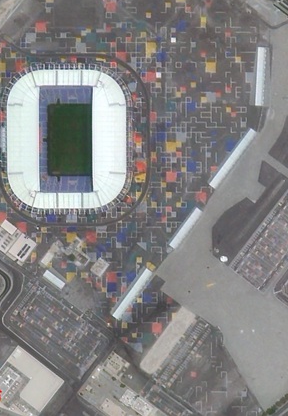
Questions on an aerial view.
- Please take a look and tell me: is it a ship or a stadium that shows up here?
stadium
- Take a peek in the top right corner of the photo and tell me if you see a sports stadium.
No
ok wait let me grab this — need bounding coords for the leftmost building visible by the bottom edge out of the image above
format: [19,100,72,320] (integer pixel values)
[0,368,20,401]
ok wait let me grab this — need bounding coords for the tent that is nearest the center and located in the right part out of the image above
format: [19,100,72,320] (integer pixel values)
[168,207,203,249]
